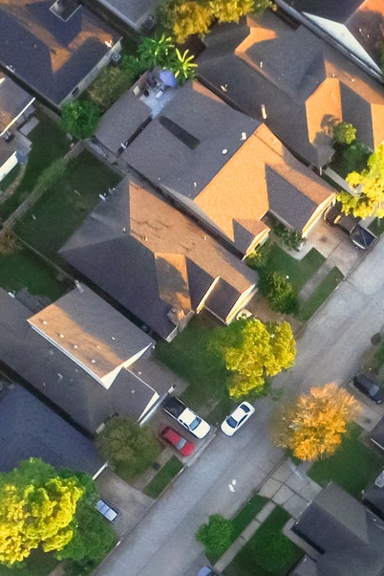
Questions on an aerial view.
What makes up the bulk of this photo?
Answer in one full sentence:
For the most part, this view shows buildings.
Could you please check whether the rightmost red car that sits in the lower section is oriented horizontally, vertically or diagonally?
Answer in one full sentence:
The rightmost red car that sits in the lower section runs diagonally in the image.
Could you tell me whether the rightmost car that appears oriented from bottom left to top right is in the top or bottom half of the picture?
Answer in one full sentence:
The rightmost car that appears oriented from bottom left to top right sits in the bottom half of the picture.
